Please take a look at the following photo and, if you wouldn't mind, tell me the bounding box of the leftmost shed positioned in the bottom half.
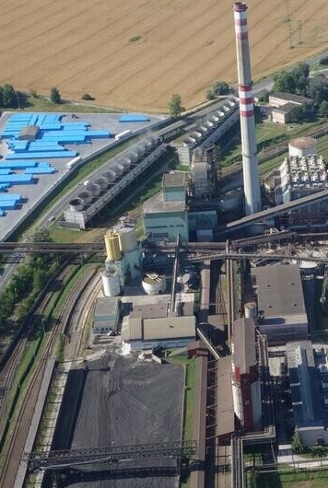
[93,296,124,331]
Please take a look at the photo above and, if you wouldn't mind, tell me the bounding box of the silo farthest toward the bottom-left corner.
[101,271,122,295]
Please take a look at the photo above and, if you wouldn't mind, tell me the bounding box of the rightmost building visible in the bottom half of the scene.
[286,340,328,444]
